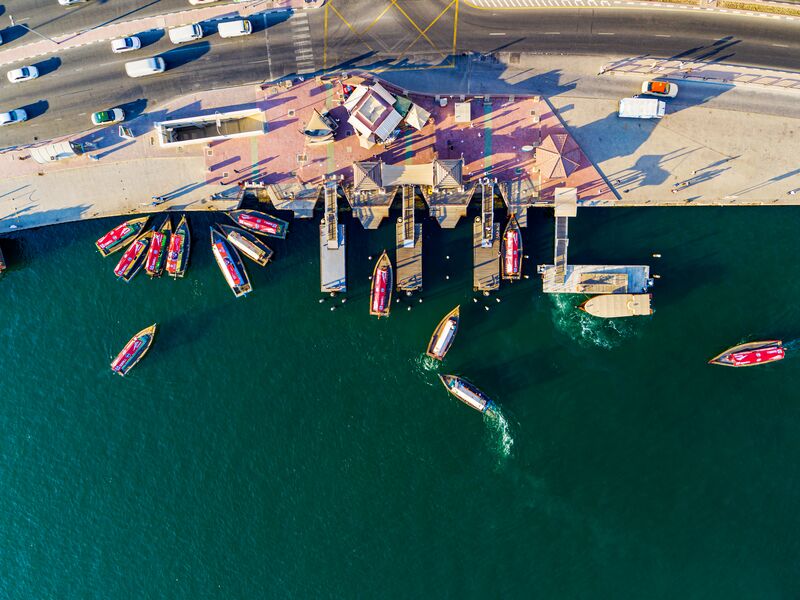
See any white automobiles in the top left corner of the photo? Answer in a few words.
Yes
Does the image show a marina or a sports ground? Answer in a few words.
marina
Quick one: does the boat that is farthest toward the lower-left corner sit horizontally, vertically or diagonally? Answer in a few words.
diagonally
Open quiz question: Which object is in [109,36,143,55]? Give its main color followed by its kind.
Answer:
white car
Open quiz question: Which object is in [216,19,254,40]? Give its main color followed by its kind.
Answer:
white vehicle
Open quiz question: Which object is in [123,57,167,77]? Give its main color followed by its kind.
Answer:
white vehicle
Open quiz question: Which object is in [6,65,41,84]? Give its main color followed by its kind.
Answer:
white car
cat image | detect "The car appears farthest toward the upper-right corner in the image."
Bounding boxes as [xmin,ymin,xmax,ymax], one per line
[641,80,677,96]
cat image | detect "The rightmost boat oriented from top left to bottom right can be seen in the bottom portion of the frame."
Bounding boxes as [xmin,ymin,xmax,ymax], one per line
[438,373,493,413]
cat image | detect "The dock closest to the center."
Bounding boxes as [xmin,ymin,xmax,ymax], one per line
[395,223,423,294]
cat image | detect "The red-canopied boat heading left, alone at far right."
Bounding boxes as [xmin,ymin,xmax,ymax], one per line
[704,342,786,366]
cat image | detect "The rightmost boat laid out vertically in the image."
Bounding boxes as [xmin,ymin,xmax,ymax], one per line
[502,207,521,281]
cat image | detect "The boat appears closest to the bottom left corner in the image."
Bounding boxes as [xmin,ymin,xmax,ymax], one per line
[111,323,159,377]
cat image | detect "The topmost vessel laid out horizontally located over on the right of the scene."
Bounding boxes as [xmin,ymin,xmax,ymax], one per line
[577,294,652,316]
